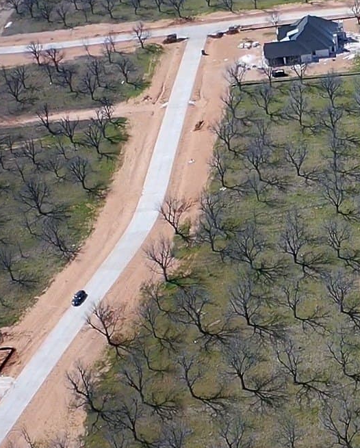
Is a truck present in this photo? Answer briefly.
No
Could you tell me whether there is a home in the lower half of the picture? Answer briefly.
No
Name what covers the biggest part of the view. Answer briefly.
grass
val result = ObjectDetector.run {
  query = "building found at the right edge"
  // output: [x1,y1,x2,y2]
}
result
[267,12,349,66]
